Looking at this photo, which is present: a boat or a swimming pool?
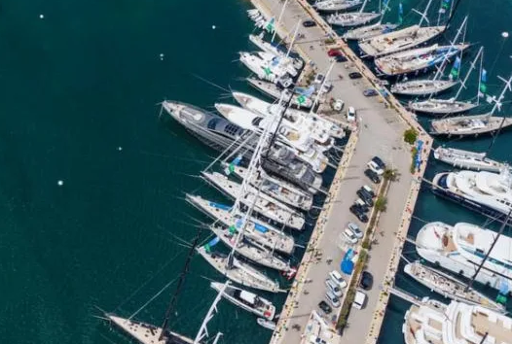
boat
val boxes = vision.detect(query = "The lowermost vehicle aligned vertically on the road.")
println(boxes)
[352,288,367,312]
